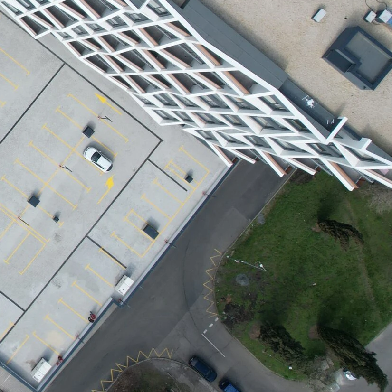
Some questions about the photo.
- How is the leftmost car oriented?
diagonally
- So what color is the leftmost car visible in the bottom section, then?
black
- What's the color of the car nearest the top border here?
white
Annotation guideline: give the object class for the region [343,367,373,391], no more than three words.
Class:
car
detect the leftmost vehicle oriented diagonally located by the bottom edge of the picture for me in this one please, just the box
[189,355,221,387]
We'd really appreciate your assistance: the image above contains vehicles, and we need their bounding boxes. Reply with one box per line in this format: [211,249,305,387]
[343,367,373,391]
[189,355,221,387]
[83,145,118,176]
[217,377,246,392]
